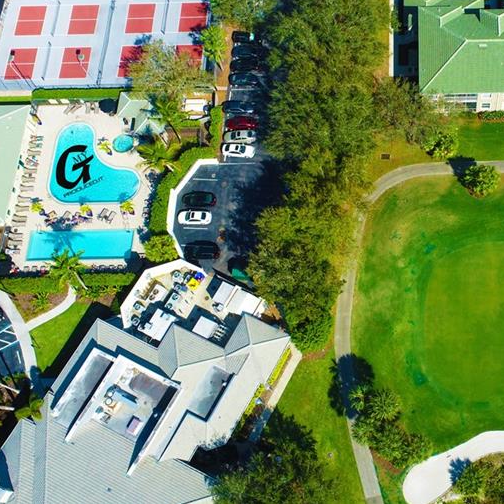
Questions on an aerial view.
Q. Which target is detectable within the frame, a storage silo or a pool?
pool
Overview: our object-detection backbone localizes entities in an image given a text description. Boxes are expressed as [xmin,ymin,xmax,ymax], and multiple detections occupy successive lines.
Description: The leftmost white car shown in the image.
[178,209,210,224]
